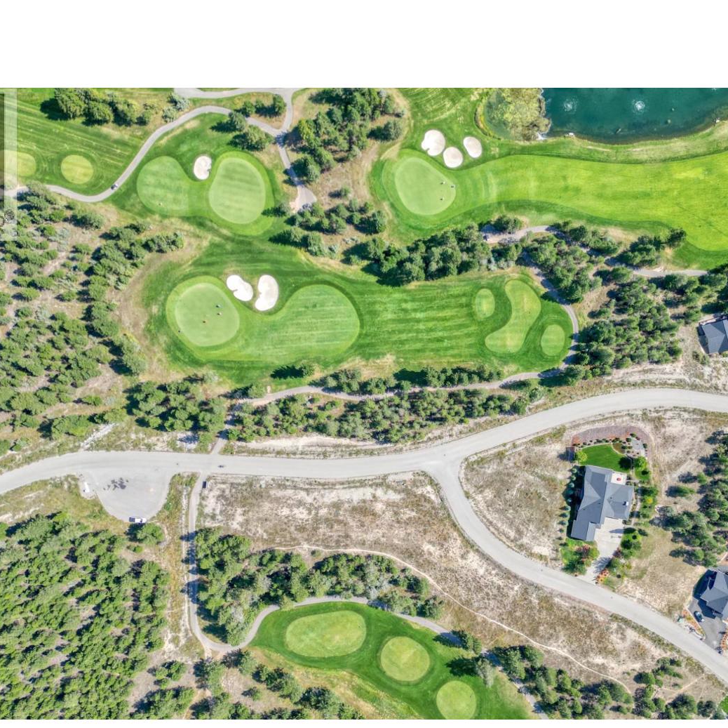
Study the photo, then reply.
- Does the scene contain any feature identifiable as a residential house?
Yes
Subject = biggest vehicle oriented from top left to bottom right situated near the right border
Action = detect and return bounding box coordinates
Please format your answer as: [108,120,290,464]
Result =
[694,608,706,625]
